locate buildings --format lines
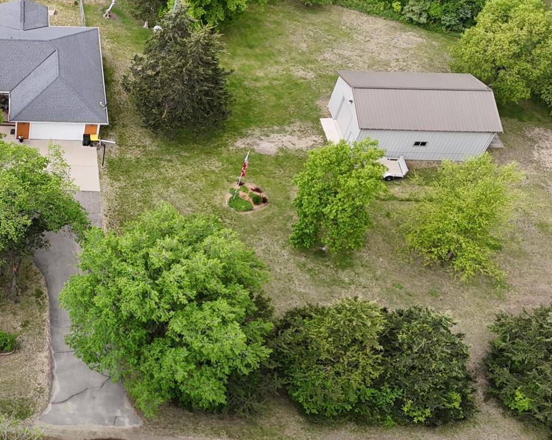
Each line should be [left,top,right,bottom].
[316,70,504,162]
[0,0,116,144]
